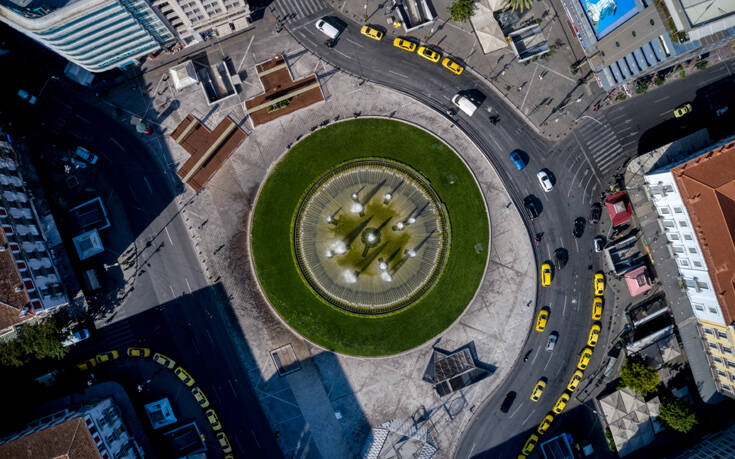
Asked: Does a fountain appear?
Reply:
Yes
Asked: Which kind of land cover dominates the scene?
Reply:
paved ground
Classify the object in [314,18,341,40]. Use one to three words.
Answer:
vehicle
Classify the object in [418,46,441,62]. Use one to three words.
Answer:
car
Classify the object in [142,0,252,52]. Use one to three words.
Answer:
building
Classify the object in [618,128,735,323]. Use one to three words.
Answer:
building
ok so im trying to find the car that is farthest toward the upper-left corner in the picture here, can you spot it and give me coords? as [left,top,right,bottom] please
[15,88,37,104]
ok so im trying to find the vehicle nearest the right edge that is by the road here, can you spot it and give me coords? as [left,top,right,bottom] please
[712,104,734,119]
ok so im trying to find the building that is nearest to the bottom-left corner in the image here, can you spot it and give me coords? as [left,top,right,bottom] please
[0,394,147,459]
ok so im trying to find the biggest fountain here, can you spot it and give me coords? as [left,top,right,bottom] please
[290,157,450,317]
